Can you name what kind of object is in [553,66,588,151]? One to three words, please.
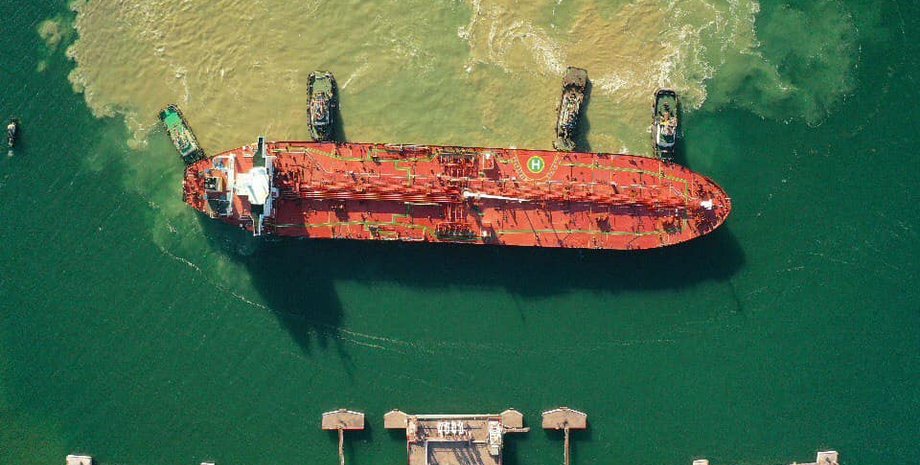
boat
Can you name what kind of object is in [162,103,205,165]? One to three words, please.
boat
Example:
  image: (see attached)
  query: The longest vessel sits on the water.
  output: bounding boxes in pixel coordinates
[182,137,734,250]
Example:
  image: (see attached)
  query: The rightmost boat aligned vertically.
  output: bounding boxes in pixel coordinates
[650,89,681,163]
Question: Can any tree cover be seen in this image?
No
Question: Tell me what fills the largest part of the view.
water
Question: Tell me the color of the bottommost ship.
red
